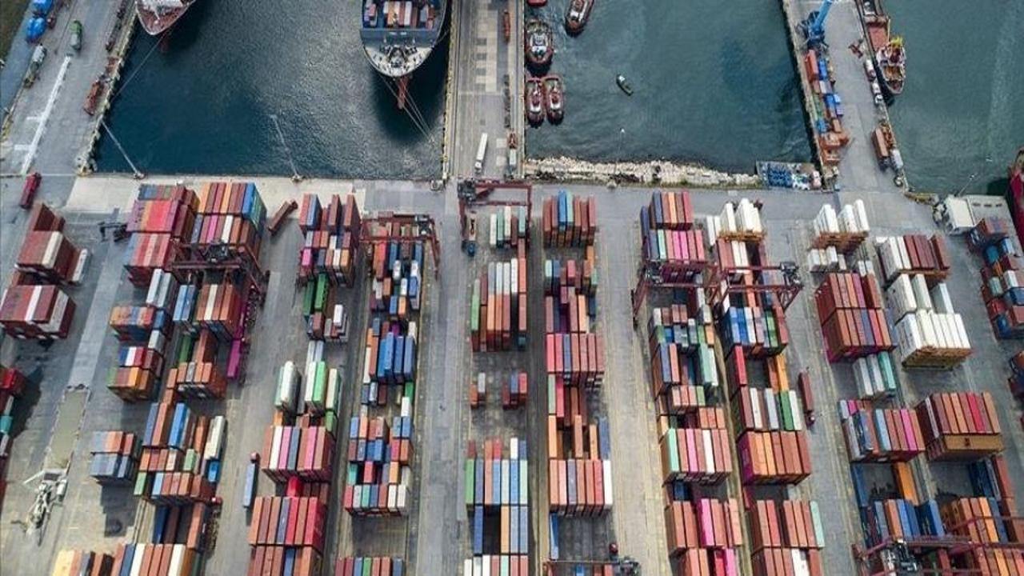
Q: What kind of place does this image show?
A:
port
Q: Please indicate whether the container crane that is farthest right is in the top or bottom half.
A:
bottom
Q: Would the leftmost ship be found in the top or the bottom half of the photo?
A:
top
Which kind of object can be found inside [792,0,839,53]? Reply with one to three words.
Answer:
crane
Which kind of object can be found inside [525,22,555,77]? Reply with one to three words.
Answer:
boat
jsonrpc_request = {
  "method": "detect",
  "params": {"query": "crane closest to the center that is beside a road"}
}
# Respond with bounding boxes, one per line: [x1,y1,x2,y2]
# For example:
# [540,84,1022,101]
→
[458,180,534,240]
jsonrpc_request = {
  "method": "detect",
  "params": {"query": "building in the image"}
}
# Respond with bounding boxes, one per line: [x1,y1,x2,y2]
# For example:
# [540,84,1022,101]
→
[928,197,976,238]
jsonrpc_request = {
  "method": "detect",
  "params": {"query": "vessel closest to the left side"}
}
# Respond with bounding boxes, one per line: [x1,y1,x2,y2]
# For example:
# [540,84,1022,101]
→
[142,0,207,59]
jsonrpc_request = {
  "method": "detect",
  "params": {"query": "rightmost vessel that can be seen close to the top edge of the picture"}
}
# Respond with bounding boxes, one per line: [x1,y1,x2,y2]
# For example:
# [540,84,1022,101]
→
[850,0,915,105]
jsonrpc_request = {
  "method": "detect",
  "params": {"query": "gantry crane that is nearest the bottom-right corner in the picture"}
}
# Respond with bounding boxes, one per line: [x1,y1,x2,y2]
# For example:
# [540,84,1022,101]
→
[938,512,1024,564]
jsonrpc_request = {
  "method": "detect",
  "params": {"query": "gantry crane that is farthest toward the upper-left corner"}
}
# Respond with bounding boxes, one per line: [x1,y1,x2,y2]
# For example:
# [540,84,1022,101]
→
[166,239,268,299]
